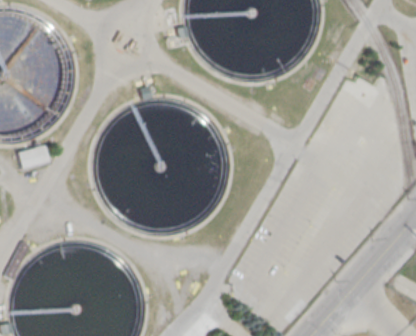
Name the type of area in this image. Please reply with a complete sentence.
This looks like an industrial area.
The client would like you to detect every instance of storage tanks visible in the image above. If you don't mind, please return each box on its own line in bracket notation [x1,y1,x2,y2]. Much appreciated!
[4,236,149,336]
[88,93,232,240]
[0,0,78,147]
[180,0,324,86]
